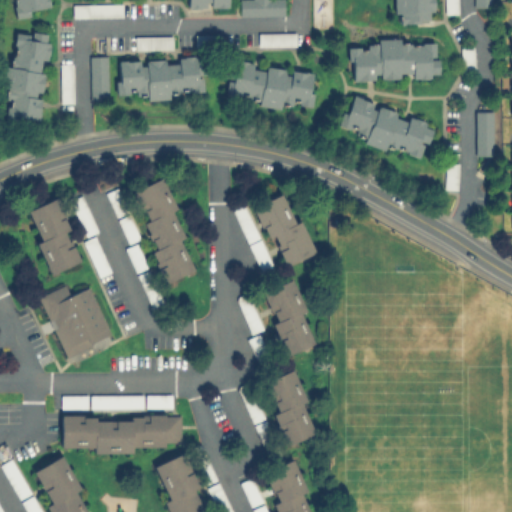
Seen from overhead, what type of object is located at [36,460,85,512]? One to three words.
building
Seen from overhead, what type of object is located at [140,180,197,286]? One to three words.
building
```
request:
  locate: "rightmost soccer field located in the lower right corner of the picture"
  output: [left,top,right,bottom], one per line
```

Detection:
[468,366,512,512]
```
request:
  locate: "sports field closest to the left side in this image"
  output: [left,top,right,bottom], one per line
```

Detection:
[346,271,464,512]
